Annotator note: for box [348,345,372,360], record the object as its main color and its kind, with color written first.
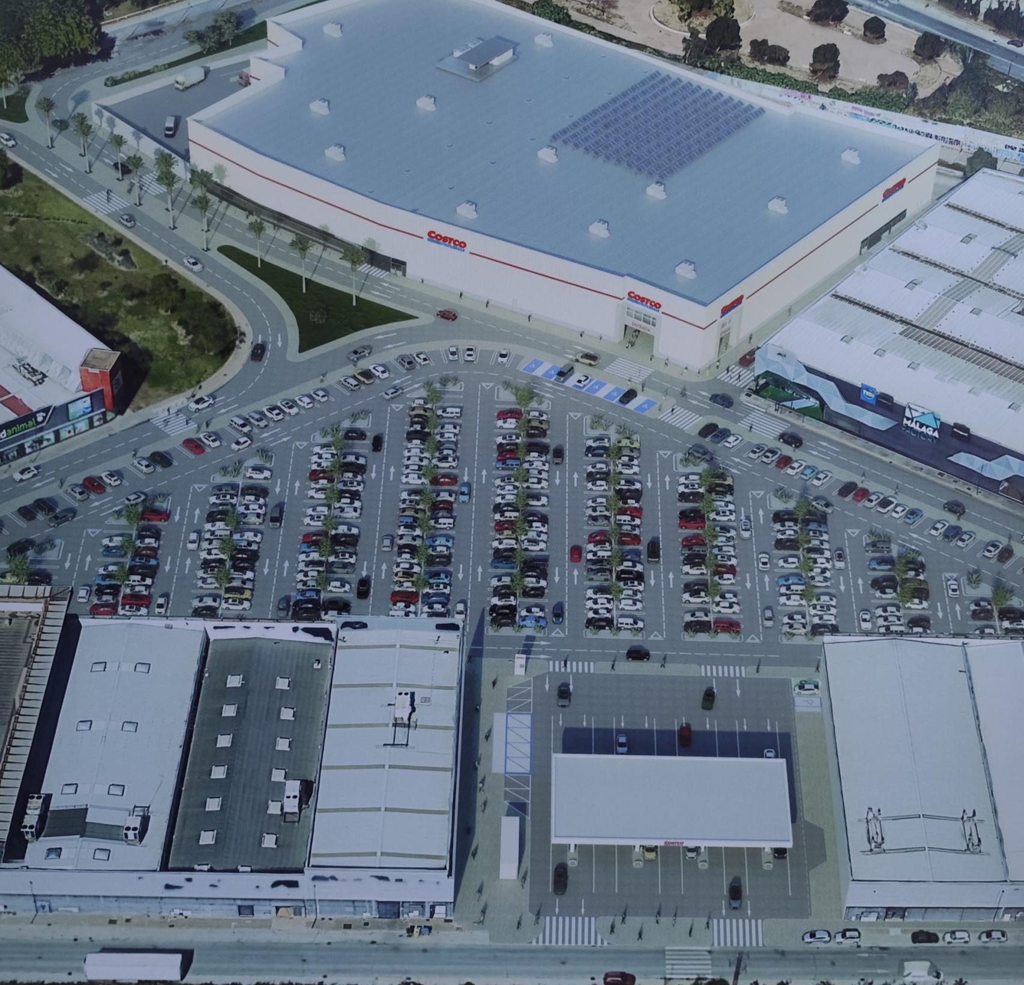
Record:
gray car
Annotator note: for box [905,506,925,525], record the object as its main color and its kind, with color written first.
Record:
blue car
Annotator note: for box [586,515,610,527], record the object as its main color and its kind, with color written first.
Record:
gray vehicle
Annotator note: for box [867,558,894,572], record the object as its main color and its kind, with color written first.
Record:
blue car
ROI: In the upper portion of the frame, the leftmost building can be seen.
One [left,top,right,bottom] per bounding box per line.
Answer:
[0,266,125,462]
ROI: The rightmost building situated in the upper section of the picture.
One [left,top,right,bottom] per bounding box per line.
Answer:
[754,167,1024,502]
